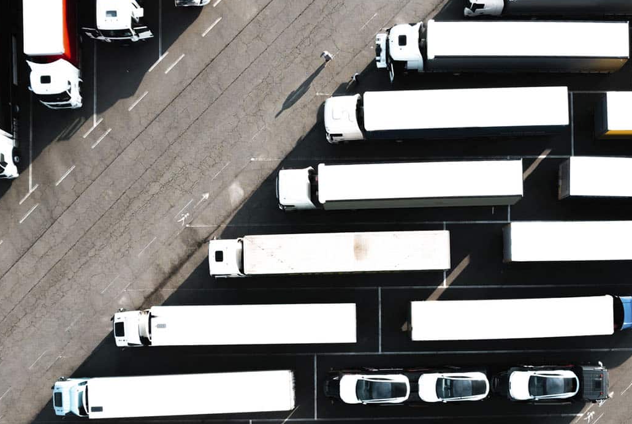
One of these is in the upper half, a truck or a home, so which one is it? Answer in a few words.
truck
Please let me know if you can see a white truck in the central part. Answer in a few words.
Yes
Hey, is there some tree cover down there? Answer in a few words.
No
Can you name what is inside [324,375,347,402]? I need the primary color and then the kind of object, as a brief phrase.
black car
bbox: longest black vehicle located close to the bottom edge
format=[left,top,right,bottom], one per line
[329,357,611,406]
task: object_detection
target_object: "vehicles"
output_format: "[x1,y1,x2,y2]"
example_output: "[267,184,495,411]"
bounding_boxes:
[340,372,409,404]
[0,0,22,180]
[508,368,577,400]
[207,231,452,283]
[329,357,611,406]
[418,371,487,403]
[557,156,632,206]
[458,0,632,20]
[279,159,523,214]
[86,0,159,46]
[324,86,568,145]
[116,303,359,350]
[24,0,86,109]
[378,18,630,87]
[593,91,632,144]
[55,369,300,422]
[503,221,632,264]
[324,375,347,402]
[408,295,632,340]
